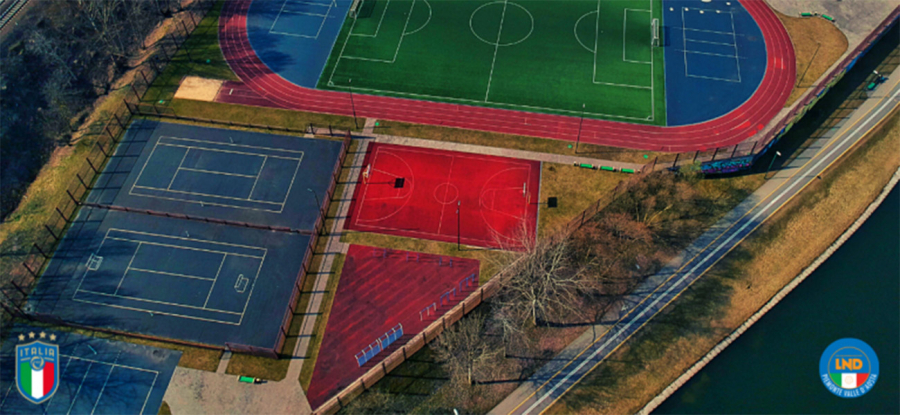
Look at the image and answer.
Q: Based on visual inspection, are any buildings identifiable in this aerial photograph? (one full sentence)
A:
No, no building is visible in the view.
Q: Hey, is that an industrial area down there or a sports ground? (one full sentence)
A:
The area seen from above is a sports ground.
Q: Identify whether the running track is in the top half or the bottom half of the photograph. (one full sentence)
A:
The running track sits in the top half of the picture.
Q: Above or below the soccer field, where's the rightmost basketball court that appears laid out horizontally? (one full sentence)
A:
The rightmost basketball court that appears laid out horizontally is located below the soccer field in this view.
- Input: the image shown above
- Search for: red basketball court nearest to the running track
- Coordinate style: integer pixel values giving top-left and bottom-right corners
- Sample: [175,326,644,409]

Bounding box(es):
[344,142,543,249]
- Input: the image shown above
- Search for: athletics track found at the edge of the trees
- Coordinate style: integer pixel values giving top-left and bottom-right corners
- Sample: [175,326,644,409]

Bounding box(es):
[219,0,799,153]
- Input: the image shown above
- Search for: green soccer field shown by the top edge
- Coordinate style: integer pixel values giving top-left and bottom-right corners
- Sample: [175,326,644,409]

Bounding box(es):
[315,0,666,126]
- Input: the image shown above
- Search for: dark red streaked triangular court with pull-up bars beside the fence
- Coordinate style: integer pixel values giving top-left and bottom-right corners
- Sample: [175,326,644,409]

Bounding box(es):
[308,244,483,414]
